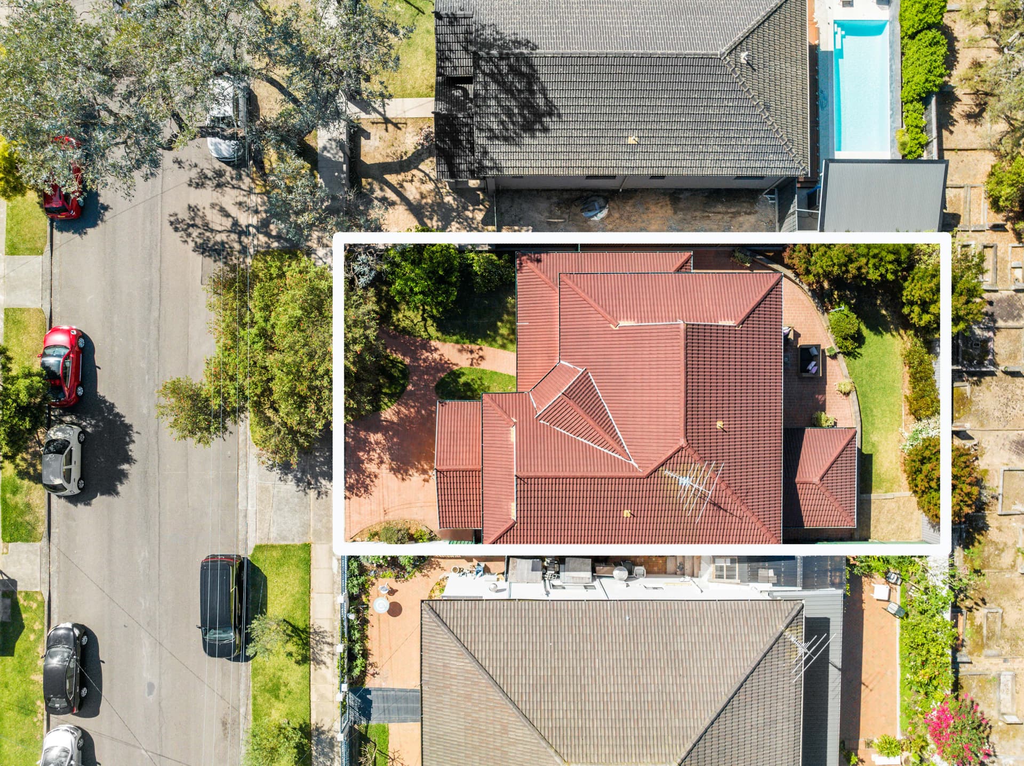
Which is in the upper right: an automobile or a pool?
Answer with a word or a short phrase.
pool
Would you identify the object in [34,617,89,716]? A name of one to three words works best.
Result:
car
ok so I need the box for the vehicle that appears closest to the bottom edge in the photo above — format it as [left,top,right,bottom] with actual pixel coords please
[30,718,84,766]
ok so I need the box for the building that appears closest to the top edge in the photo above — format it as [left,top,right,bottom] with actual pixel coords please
[430,0,812,190]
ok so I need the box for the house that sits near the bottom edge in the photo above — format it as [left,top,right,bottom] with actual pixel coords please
[417,564,807,766]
